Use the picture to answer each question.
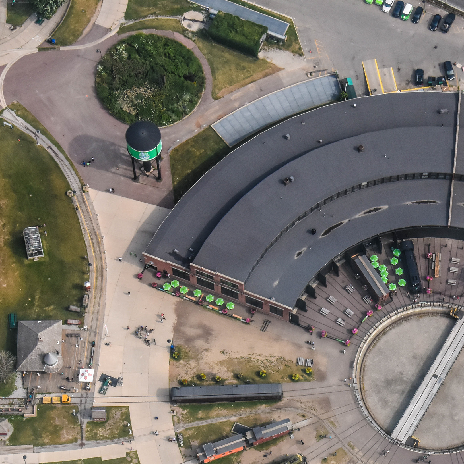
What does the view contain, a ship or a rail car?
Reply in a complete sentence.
It is a rail car that can be seen here.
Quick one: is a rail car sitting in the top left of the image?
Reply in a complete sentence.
No, no rail car appears in the top left of the image.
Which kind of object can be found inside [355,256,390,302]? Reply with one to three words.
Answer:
rail car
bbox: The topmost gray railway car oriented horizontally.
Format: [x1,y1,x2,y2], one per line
[172,384,283,405]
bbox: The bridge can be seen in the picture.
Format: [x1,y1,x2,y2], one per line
[393,309,464,446]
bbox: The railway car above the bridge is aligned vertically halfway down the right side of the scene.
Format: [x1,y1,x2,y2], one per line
[400,239,422,298]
